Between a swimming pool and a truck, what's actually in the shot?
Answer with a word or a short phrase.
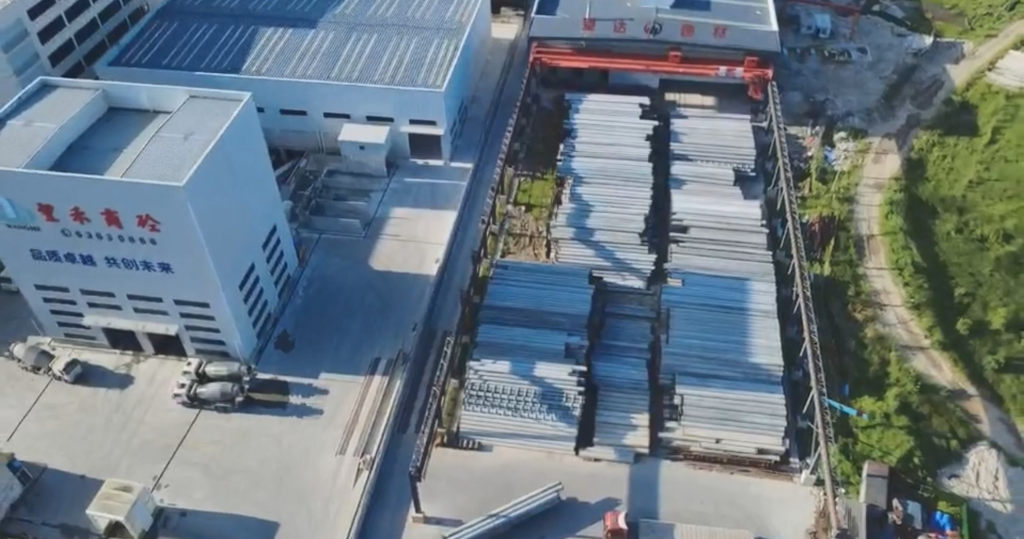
truck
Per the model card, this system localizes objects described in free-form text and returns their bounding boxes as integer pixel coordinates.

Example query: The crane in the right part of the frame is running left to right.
[521,48,782,113]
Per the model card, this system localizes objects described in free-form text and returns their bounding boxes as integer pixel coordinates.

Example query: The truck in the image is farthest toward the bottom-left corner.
[1,336,85,384]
